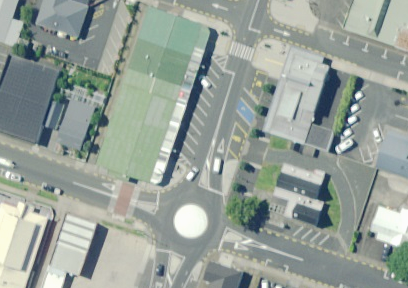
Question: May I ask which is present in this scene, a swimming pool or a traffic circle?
traffic circle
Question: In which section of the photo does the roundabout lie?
bottom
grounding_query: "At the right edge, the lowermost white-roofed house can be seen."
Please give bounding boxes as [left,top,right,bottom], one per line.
[372,206,408,247]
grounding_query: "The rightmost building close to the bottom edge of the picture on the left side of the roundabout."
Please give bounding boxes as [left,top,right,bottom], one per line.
[51,215,96,276]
